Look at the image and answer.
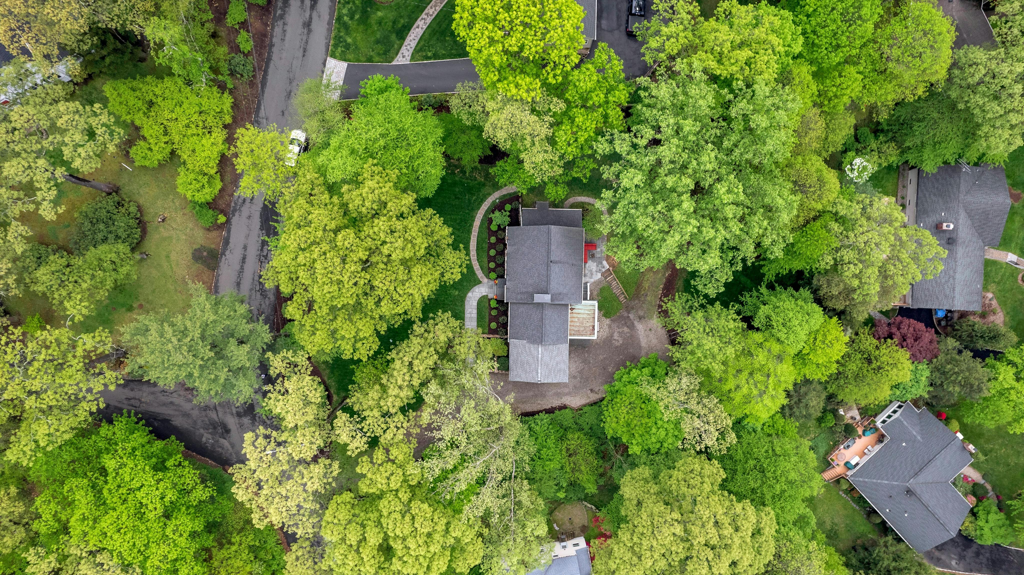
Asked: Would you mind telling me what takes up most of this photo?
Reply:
trees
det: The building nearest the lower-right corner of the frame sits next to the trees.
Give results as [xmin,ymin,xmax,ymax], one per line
[838,391,979,552]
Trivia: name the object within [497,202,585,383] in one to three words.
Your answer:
house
